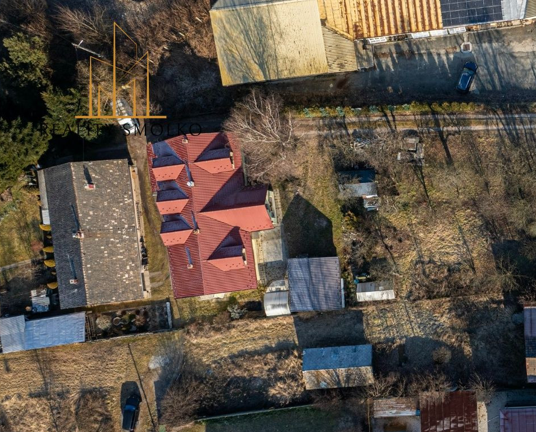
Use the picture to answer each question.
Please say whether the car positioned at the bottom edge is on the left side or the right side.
left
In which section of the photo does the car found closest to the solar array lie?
top right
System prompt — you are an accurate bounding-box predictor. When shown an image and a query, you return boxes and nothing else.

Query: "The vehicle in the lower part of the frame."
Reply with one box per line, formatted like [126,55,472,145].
[121,394,144,430]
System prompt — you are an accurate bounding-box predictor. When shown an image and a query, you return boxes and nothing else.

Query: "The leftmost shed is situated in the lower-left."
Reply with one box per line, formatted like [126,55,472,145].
[0,312,94,352]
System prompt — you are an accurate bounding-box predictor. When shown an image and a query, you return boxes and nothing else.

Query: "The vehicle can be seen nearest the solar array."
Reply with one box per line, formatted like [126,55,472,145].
[455,61,479,96]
